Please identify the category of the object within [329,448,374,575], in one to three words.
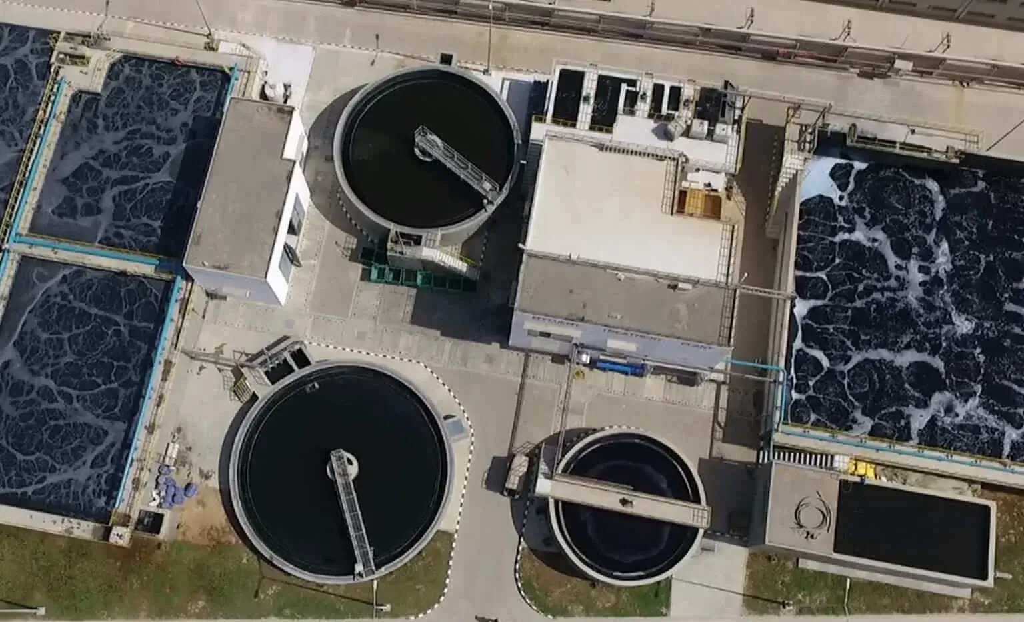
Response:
bridge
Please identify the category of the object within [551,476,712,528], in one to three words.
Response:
bridge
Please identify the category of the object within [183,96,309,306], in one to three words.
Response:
building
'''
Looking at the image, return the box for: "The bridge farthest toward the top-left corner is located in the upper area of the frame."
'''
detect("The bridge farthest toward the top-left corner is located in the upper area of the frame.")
[416,132,500,206]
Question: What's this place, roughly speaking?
industrial area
